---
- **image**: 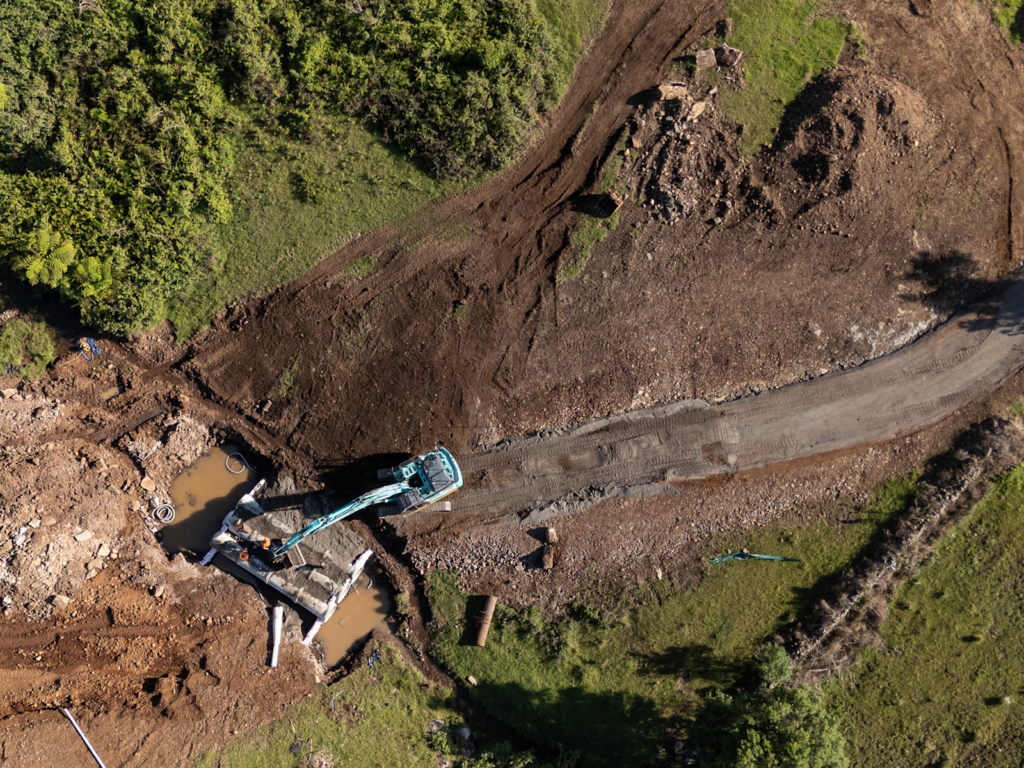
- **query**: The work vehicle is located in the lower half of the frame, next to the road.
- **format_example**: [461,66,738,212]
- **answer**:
[274,447,463,570]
